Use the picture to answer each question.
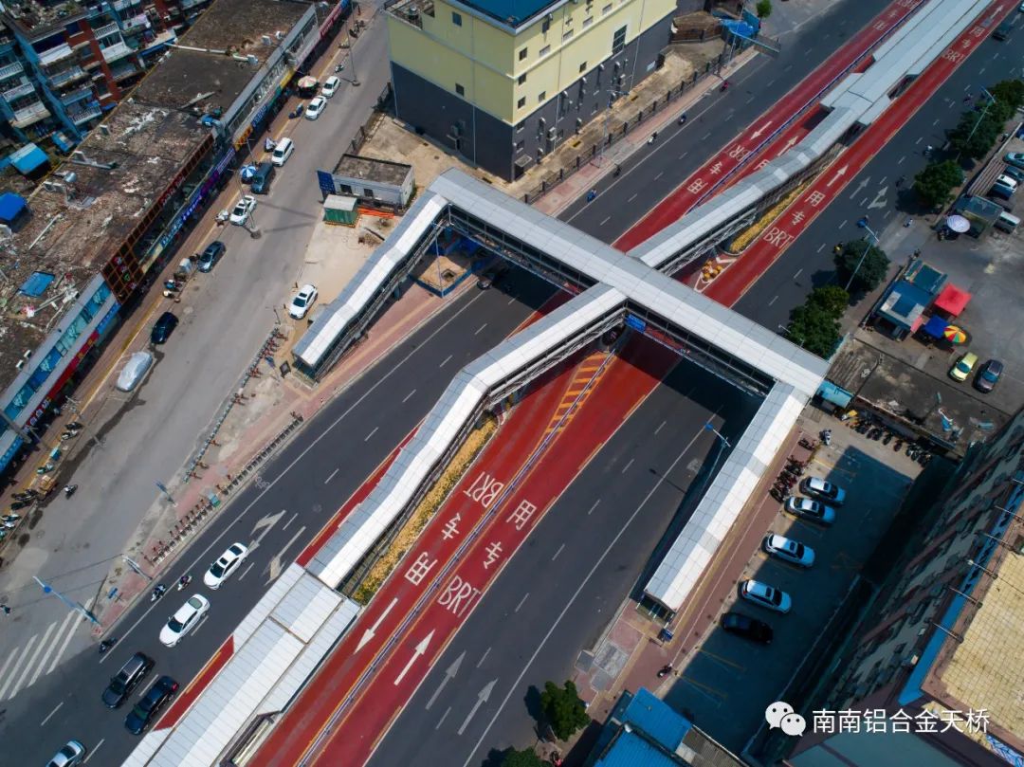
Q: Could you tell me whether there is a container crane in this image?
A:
No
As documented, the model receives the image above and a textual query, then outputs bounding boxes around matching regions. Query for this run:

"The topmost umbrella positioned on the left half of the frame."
[297,78,320,98]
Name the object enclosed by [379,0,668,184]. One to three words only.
building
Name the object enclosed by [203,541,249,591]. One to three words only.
car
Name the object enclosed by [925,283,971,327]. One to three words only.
gazebo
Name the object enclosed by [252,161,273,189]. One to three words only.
vehicle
